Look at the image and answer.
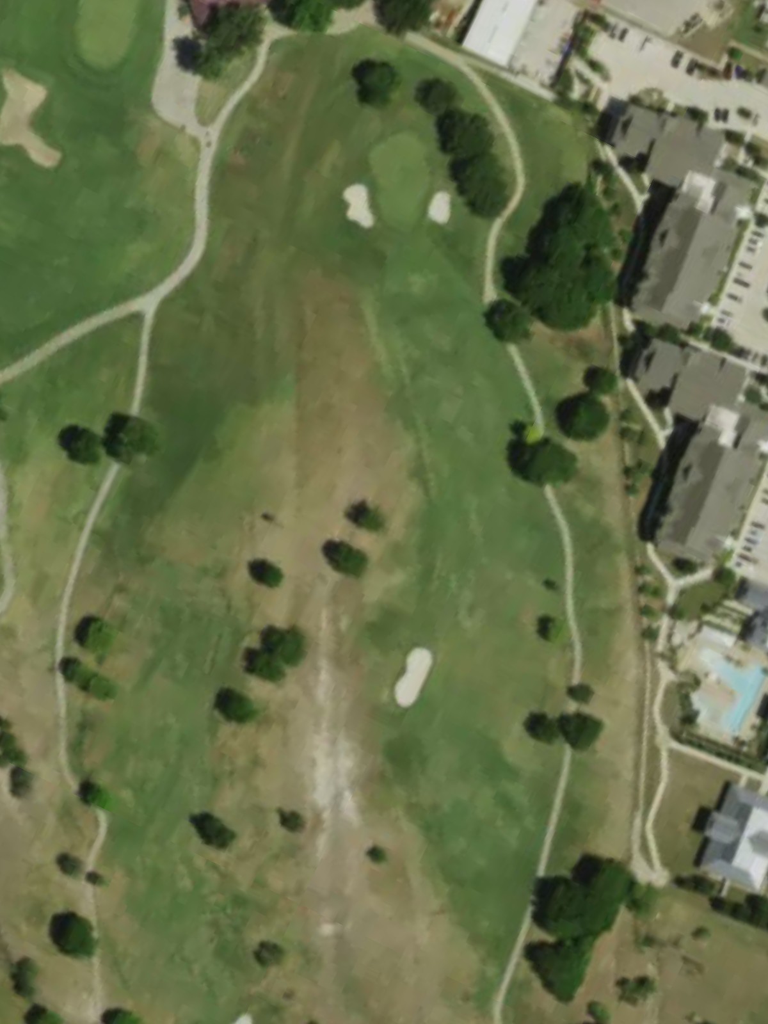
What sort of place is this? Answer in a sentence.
This image shows a golf course.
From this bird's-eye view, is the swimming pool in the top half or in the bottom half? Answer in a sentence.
The swimming pool is in the bottom half of the image.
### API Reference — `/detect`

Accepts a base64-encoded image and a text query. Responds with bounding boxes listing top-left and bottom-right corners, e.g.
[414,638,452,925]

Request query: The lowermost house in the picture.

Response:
[700,782,768,897]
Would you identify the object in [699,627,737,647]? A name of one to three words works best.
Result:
building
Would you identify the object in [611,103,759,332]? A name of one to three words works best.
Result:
building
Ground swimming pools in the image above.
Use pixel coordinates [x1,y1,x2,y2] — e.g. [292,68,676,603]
[675,624,768,756]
